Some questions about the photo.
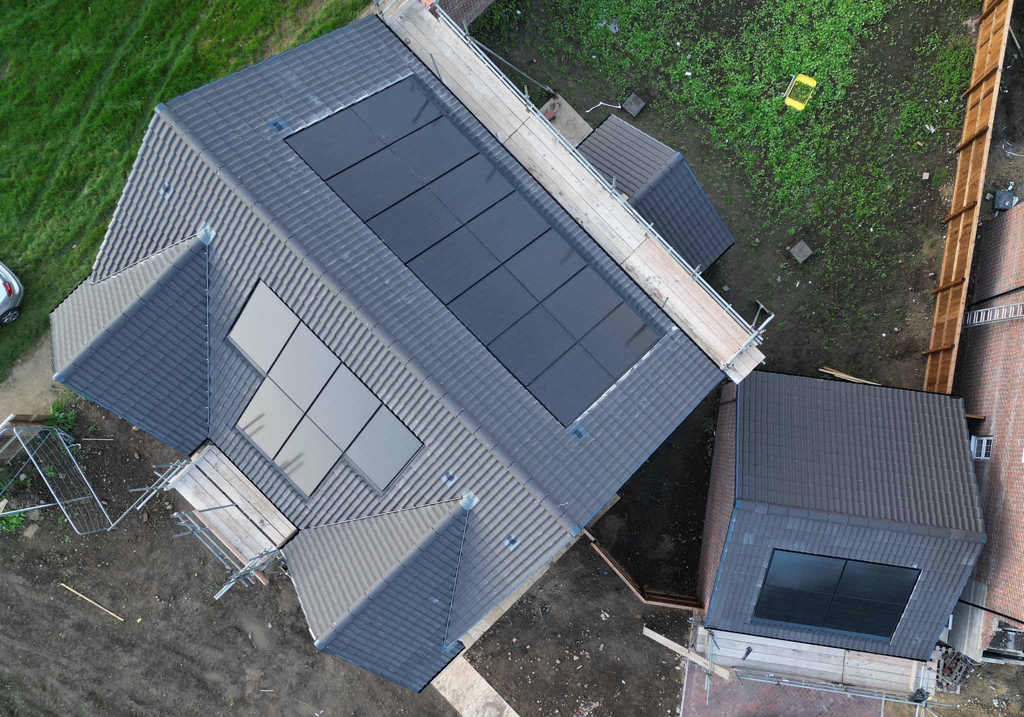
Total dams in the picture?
zero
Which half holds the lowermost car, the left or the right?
left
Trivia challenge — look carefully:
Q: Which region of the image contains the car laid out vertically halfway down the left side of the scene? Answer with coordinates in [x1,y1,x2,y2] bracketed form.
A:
[0,258,29,325]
